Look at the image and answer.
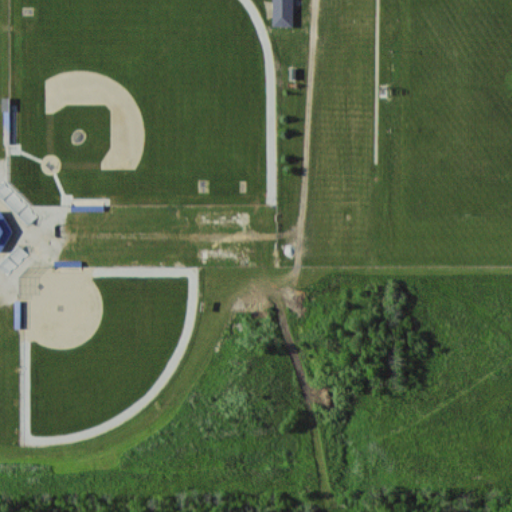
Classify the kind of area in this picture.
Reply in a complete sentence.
What you see here is a sports ground.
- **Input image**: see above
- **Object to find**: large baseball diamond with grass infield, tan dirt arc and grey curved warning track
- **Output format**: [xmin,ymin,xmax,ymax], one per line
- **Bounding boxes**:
[10,0,276,206]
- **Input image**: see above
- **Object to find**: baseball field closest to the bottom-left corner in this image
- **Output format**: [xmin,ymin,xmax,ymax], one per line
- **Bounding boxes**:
[20,267,198,448]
